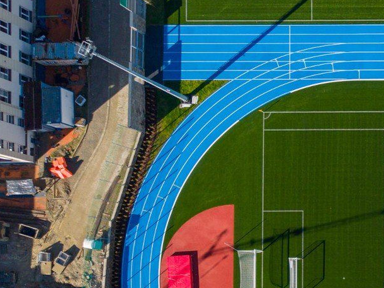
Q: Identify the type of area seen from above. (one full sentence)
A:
What you see here is a sports ground.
